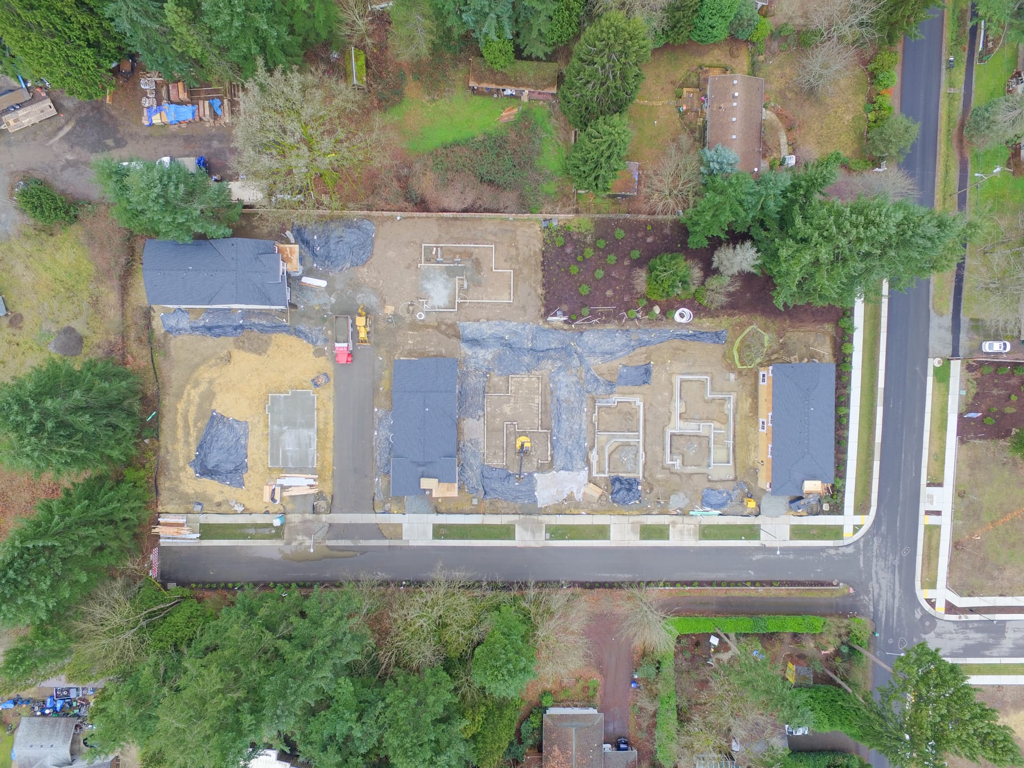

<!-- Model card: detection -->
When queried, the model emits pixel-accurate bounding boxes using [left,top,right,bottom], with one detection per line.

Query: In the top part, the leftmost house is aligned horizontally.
[138,237,296,309]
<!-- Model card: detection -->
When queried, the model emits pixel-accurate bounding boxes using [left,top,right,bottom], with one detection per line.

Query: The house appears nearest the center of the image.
[390,358,458,499]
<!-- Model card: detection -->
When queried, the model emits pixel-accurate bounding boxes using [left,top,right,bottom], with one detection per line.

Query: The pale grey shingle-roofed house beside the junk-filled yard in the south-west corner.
[8,714,110,768]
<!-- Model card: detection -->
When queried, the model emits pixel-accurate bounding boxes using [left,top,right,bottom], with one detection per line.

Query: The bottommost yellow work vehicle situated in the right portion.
[735,495,758,508]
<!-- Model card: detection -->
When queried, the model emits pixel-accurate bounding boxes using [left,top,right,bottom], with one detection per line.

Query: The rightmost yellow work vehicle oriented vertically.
[516,435,531,492]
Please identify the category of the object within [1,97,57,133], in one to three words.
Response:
trailer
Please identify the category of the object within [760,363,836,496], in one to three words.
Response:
house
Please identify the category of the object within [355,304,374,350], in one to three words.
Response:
work vehicle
